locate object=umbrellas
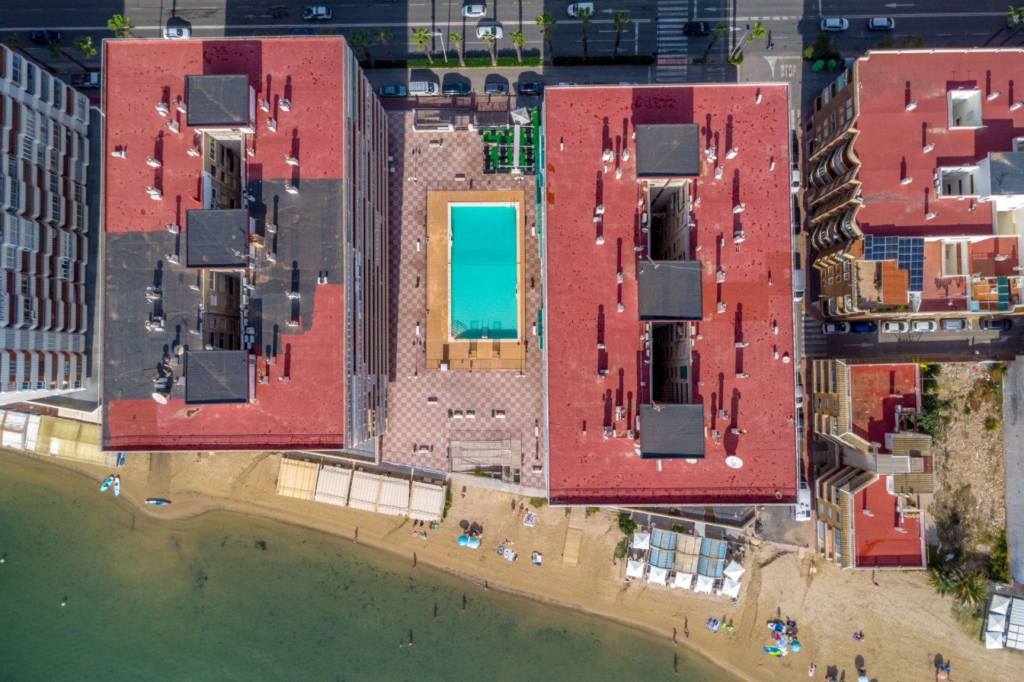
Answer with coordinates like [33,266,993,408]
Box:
[722,578,741,598]
[648,568,666,583]
[723,560,745,582]
[985,615,1005,632]
[468,536,480,548]
[857,673,869,682]
[457,534,469,547]
[675,573,692,589]
[696,575,713,592]
[790,641,801,652]
[988,594,1010,614]
[982,632,1002,649]
[627,561,644,578]
[510,108,530,124]
[633,533,650,549]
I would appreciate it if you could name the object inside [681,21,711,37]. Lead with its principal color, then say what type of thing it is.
black car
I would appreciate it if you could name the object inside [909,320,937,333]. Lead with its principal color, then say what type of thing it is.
white vehicle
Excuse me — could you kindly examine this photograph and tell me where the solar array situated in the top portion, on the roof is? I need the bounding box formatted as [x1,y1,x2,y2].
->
[859,238,923,292]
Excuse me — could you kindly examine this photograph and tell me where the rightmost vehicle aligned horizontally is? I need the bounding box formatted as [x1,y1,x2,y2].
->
[979,316,1010,331]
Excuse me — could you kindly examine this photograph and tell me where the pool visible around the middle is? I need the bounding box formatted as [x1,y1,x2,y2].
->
[427,190,525,370]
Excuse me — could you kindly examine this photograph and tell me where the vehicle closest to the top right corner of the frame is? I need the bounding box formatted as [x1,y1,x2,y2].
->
[865,16,895,32]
